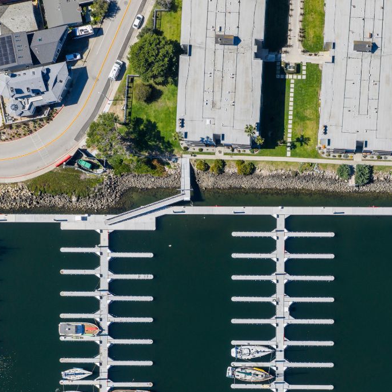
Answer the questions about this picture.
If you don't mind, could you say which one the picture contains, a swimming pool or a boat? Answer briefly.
boat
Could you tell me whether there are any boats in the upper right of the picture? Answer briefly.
No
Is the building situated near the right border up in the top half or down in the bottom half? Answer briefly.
top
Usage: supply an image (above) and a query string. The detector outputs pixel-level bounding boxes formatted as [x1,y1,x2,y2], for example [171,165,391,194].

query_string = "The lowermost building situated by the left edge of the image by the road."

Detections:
[0,61,73,126]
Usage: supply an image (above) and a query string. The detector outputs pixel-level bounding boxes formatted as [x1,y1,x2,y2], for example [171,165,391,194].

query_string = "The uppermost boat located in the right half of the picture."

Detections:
[230,344,275,360]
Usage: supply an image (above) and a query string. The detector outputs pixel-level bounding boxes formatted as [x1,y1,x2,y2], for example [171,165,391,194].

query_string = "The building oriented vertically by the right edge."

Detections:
[318,0,392,158]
